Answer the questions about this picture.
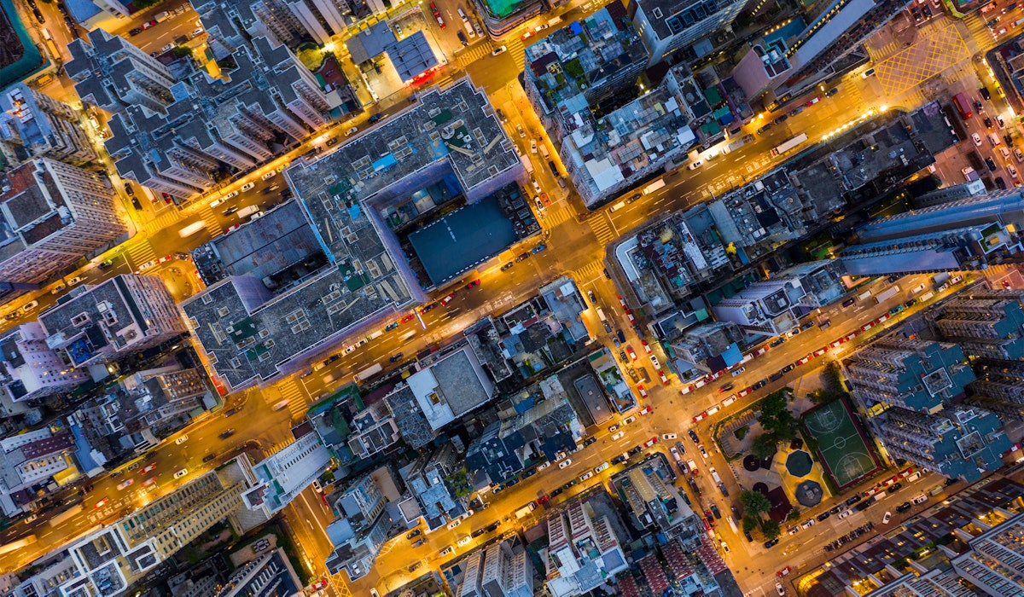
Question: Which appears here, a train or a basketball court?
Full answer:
The image shows a basketball court.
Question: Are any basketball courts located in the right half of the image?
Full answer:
Yes, a basketball court can be seen in the right half of the image.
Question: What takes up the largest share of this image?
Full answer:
Most of the picture is covered by buildings.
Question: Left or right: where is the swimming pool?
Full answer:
The swimming pool appears in the right half of the scene.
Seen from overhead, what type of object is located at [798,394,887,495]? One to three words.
basketball court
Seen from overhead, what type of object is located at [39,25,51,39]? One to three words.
vehicle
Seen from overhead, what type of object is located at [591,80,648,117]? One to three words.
shed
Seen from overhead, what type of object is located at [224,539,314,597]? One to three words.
building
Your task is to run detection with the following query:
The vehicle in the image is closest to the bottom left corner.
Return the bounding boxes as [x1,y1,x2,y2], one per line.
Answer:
[1,533,32,554]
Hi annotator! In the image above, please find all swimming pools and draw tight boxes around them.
[749,8,812,48]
